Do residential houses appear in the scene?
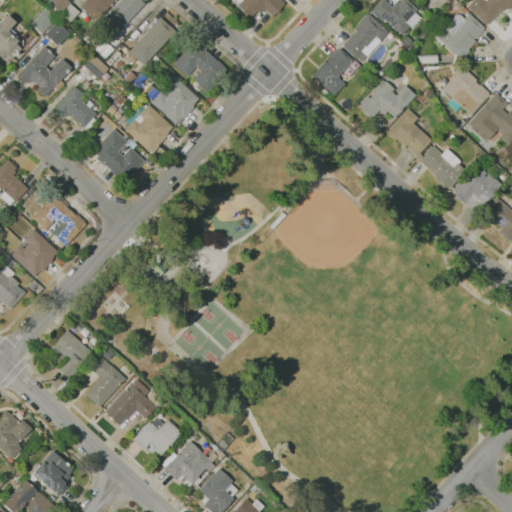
Yes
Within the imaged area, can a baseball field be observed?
Yes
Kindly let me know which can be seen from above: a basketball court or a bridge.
basketball court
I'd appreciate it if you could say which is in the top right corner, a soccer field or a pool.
pool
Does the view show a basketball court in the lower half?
Yes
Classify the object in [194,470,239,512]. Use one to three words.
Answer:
house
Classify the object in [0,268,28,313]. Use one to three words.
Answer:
house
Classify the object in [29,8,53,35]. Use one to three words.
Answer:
building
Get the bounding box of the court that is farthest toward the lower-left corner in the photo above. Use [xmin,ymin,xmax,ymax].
[174,323,224,372]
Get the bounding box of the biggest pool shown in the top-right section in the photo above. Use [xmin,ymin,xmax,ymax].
[366,42,390,64]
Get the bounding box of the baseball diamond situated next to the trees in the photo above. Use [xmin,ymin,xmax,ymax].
[278,178,377,269]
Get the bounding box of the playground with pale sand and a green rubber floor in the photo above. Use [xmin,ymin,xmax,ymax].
[212,193,264,243]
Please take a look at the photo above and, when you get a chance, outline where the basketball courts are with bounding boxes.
[174,323,224,372]
[196,302,246,350]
